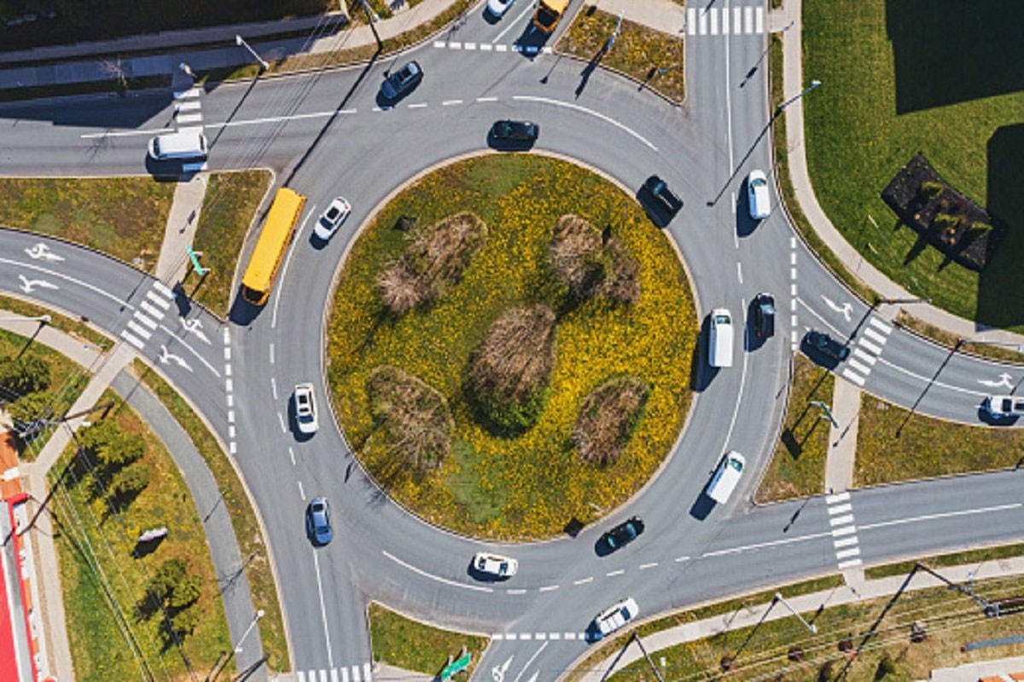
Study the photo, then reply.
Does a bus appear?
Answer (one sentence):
Yes, the photo shows a bus.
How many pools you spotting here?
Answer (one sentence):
The picture shows no pools.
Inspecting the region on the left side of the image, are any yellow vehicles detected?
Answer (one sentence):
Yes, you'll find a yellow vehicle on the left side of the image.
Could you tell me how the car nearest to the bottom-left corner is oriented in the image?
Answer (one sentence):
I'd say the car nearest to the bottom-left corner is aligned up and down in the picture.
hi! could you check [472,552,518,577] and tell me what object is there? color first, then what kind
white car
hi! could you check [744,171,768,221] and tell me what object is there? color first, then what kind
white car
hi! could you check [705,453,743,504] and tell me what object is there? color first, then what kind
white van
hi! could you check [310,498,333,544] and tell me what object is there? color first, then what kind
blue car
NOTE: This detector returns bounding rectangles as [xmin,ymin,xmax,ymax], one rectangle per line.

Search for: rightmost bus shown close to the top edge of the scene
[538,0,576,32]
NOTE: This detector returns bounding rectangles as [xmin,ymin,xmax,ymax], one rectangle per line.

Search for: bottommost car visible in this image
[595,597,639,632]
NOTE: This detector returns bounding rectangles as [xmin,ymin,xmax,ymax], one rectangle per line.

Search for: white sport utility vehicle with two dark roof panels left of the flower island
[295,385,319,431]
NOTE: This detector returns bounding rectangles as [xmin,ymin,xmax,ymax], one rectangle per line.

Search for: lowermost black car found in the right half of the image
[598,517,643,551]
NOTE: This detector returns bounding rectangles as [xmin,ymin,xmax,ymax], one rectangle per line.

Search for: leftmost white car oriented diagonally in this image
[315,197,351,242]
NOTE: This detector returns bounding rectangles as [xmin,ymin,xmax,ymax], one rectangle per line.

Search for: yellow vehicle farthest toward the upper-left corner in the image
[242,186,309,301]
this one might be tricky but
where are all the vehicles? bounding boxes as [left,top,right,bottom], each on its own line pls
[598,517,643,551]
[707,311,732,365]
[538,0,576,32]
[472,552,518,577]
[489,119,538,142]
[242,186,309,301]
[310,498,333,544]
[752,293,775,338]
[801,333,847,364]
[315,197,351,242]
[295,385,319,431]
[383,62,424,99]
[641,174,686,219]
[744,171,768,221]
[595,597,639,632]
[489,0,514,17]
[705,453,743,504]
[152,135,212,159]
